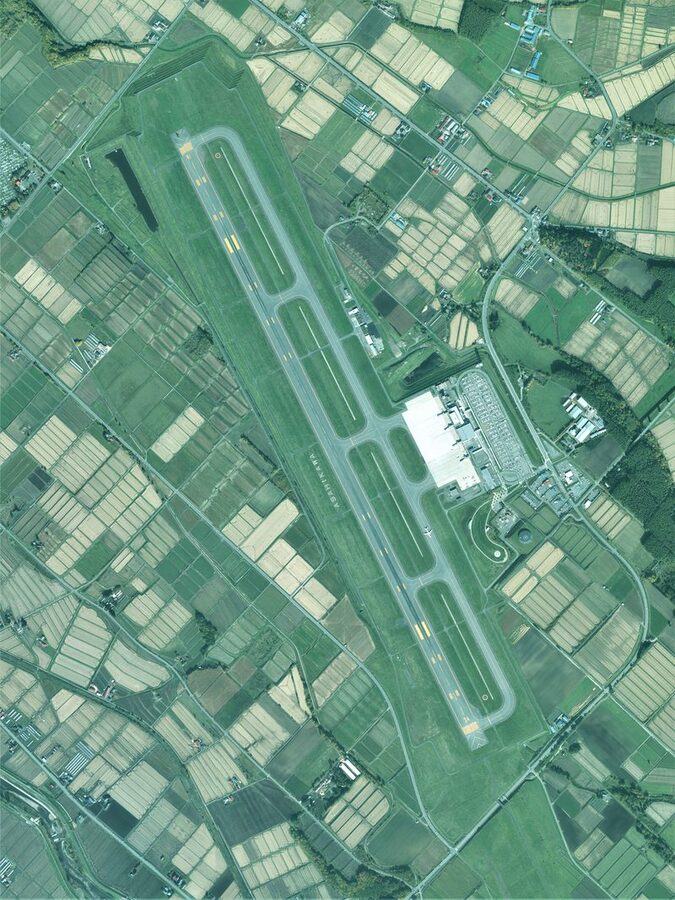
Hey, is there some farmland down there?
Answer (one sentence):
Yes, the picture does contain farmland.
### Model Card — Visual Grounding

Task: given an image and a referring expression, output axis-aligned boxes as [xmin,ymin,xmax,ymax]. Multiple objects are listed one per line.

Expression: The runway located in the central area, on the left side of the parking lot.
[171,127,485,751]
